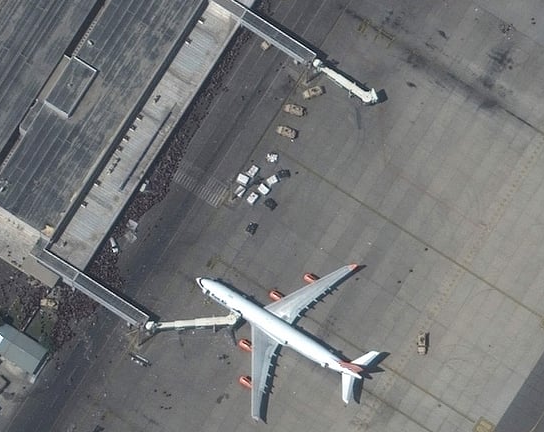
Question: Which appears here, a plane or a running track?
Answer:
plane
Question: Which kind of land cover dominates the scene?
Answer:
paved ground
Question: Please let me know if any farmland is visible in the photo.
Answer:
No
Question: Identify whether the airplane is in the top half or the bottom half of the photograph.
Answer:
bottom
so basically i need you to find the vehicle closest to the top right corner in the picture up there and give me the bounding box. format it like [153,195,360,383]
[304,86,324,100]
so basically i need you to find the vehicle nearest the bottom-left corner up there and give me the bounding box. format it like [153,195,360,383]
[130,352,149,366]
